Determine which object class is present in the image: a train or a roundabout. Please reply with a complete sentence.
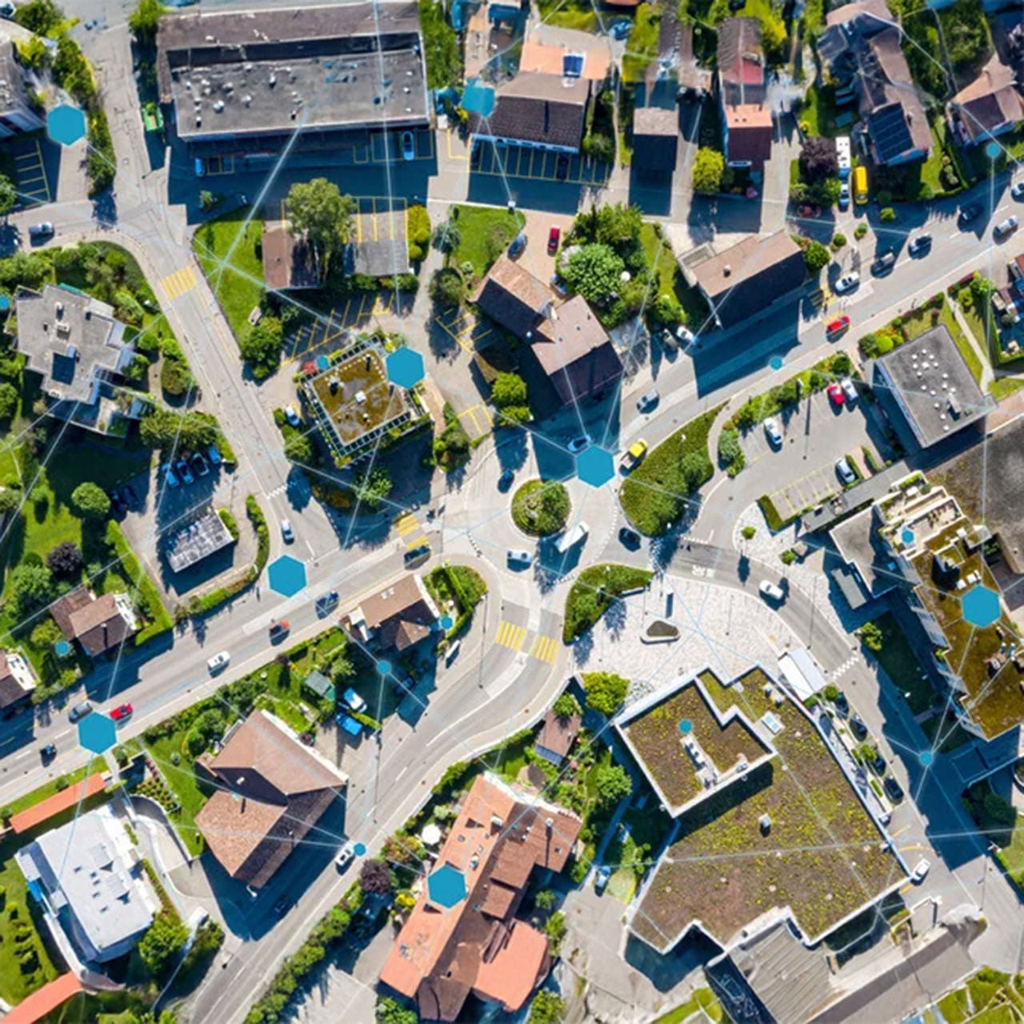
This aerial view contains a roundabout.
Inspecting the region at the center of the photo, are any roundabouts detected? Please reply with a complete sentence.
Yes, looking at the center of the photo, one can make out a roundabout.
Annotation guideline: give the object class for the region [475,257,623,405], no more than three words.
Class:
house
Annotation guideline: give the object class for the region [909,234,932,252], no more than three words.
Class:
car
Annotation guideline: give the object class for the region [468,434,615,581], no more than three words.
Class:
roundabout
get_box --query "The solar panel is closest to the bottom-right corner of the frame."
[536,745,562,765]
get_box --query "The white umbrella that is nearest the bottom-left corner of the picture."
[422,824,442,844]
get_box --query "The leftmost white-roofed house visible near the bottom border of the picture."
[15,797,165,977]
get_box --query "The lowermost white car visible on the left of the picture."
[335,847,353,867]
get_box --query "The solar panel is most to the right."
[868,104,912,163]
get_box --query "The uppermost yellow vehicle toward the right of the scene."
[854,167,870,200]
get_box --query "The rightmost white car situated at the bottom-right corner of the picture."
[913,860,930,879]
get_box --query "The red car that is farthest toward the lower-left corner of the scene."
[110,703,133,719]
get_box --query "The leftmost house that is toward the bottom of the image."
[0,650,45,705]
